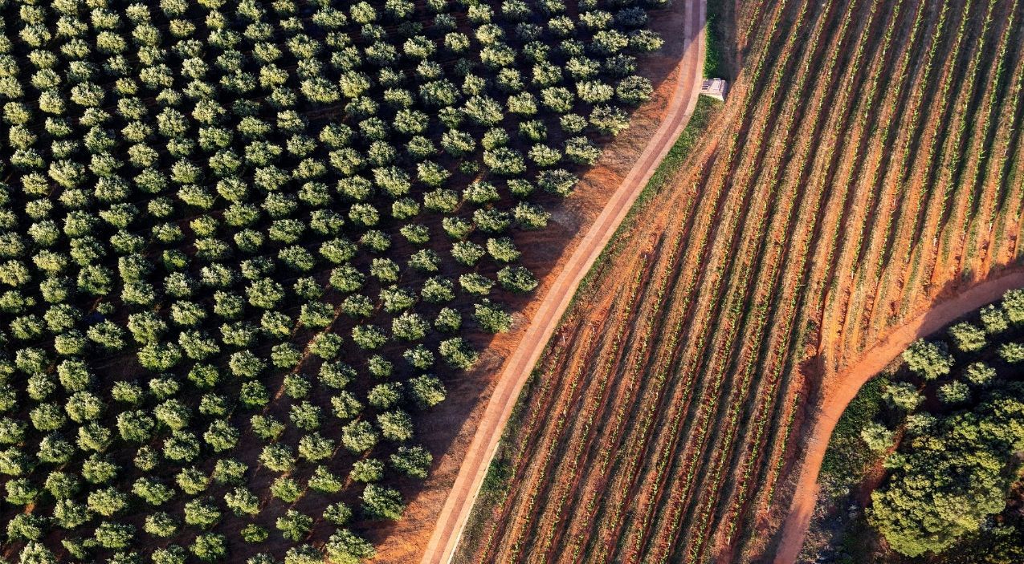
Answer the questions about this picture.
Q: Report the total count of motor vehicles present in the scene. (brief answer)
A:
zero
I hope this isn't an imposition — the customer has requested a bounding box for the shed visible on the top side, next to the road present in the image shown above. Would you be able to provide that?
[702,77,728,101]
